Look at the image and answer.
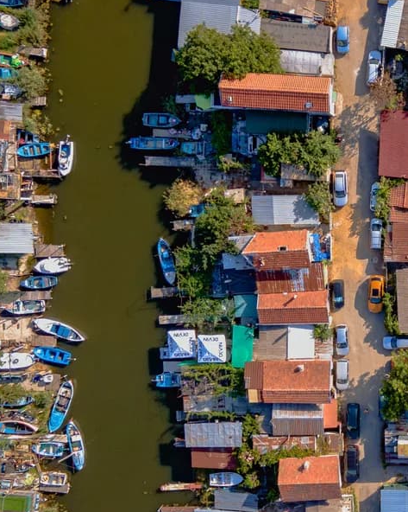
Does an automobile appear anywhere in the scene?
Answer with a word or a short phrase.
Yes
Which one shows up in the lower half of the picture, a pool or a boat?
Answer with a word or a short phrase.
boat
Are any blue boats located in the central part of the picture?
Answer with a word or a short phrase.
Yes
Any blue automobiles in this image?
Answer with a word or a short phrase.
Yes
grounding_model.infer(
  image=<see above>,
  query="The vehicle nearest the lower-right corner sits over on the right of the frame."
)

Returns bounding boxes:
[344,445,361,483]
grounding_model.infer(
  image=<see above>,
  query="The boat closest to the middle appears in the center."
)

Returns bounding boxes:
[156,238,177,285]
